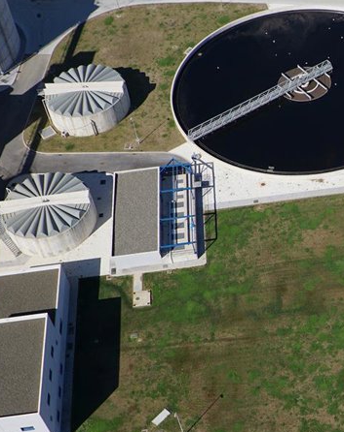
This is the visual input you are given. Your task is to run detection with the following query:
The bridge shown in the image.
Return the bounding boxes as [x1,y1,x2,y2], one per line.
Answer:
[185,58,334,146]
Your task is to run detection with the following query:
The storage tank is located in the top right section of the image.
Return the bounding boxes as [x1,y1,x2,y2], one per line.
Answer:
[170,7,344,181]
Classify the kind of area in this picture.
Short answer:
industrial area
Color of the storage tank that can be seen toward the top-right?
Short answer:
black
